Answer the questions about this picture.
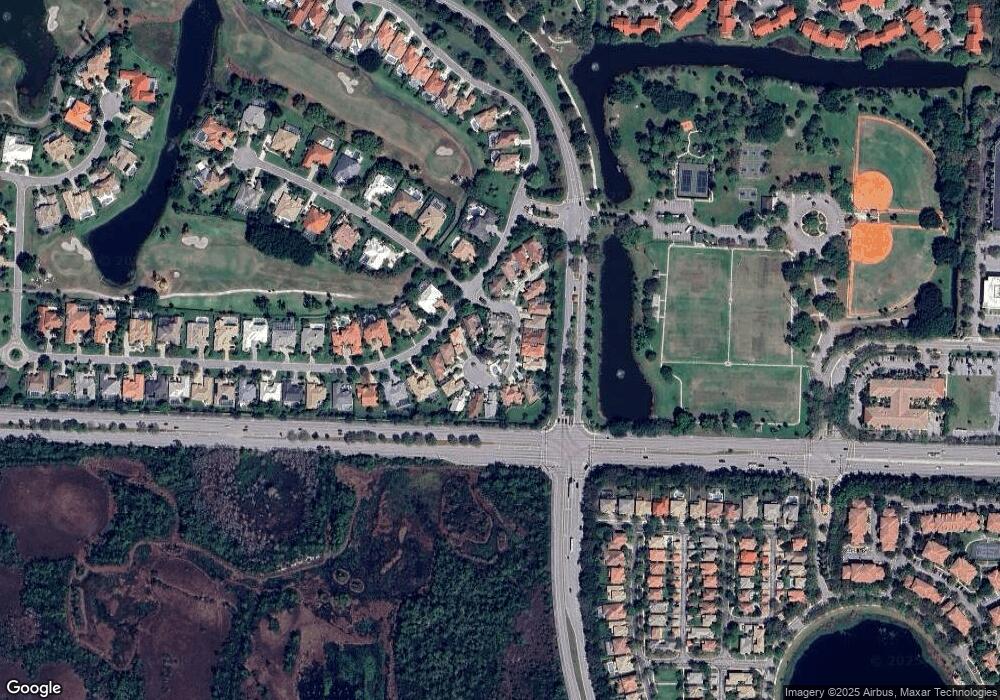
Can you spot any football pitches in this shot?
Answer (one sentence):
Yes, the photo shows a football pitch.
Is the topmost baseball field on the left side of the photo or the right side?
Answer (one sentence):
The topmost baseball field appears in the right half of the scene.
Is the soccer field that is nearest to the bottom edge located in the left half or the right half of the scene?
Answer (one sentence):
The soccer field that is nearest to the bottom edge is on the right side of the image.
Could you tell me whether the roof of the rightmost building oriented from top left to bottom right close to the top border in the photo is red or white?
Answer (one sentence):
The roof of the rightmost building oriented from top left to bottom right close to the top border is red.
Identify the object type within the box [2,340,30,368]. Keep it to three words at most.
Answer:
roundabout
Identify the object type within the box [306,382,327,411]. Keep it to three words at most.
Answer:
house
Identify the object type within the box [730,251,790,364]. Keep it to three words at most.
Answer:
soccer field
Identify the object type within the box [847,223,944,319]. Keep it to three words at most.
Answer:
baseball field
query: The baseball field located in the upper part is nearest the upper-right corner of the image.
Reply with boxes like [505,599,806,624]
[854,112,948,233]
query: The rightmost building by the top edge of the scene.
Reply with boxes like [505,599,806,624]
[967,3,983,54]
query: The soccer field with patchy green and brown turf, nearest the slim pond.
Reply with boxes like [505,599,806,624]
[663,249,730,361]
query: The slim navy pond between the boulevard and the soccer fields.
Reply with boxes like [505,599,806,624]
[599,233,654,420]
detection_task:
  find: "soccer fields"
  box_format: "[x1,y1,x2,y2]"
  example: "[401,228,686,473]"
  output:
[730,251,790,364]
[684,366,801,423]
[663,249,730,361]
